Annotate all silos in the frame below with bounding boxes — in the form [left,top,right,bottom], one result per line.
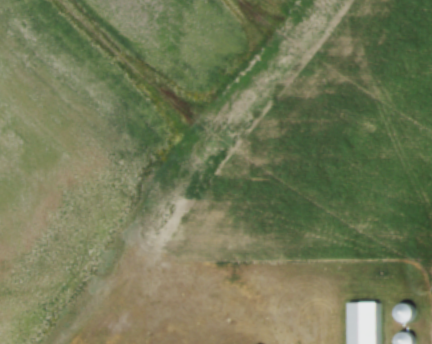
[392,304,418,326]
[392,332,418,344]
